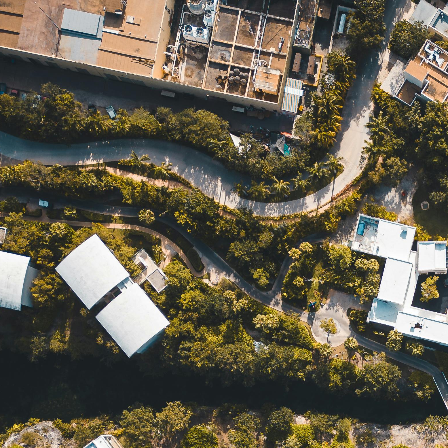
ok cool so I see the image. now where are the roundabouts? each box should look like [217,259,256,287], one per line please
[311,315,350,350]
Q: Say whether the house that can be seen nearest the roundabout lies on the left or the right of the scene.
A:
right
